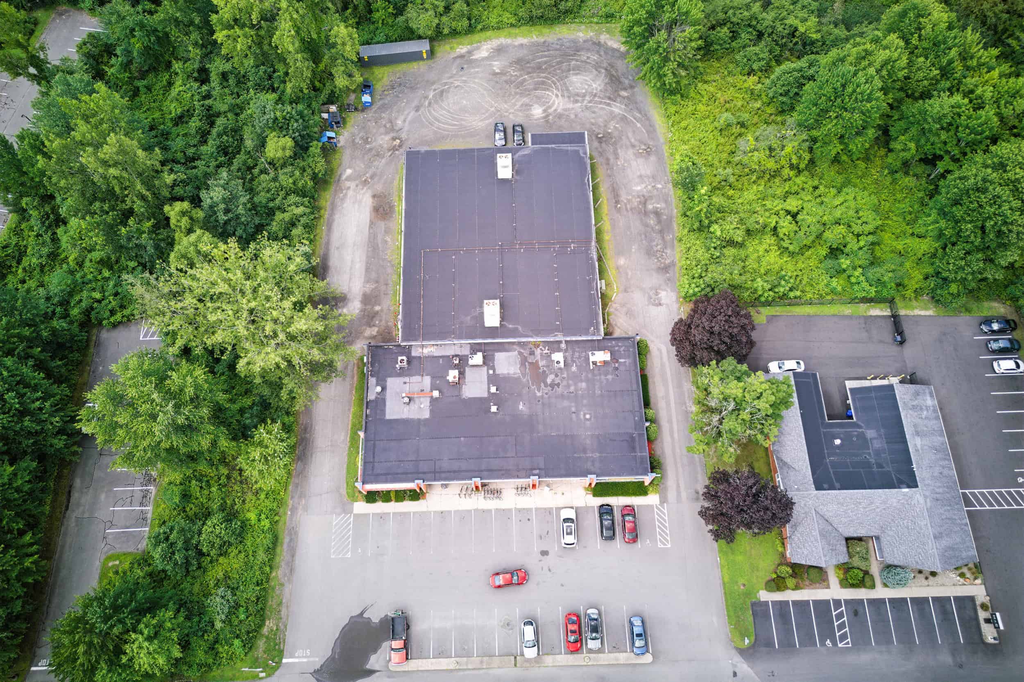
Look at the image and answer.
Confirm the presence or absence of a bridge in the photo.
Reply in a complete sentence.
No, I can't see a single bridge in this photo.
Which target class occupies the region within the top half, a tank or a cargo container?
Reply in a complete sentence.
The feature located within the top half is a cargo container.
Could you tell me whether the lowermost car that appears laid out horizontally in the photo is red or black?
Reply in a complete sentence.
In this view, the lowermost car that appears laid out horizontally is red.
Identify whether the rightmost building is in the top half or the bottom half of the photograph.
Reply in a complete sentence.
The bottom half of the photo is where the rightmost building is.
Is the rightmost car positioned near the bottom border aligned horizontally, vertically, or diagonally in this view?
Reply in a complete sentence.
The rightmost car positioned near the bottom border has been laid out vertically relative to the frame.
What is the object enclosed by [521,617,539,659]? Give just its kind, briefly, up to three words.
car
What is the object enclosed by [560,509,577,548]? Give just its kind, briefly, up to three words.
car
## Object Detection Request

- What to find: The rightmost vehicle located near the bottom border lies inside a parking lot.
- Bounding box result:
[629,615,649,658]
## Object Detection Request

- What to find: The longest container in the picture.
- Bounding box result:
[359,38,433,67]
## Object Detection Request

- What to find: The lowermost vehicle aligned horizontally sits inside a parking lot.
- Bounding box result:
[489,569,528,589]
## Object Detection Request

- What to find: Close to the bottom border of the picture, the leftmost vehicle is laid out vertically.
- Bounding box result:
[388,611,408,665]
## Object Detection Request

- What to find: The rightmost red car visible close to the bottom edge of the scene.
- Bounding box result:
[564,612,583,654]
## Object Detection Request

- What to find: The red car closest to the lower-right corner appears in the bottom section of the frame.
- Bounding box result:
[621,506,638,544]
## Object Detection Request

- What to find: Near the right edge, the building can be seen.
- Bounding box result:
[769,370,979,573]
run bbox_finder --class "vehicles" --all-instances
[564,612,583,654]
[560,509,577,548]
[768,358,804,373]
[980,317,1018,333]
[489,569,528,589]
[388,611,408,665]
[512,120,525,146]
[598,504,615,541]
[584,608,604,651]
[493,119,507,147]
[521,617,539,659]
[629,615,649,658]
[985,337,1021,353]
[621,506,638,544]
[992,358,1024,374]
